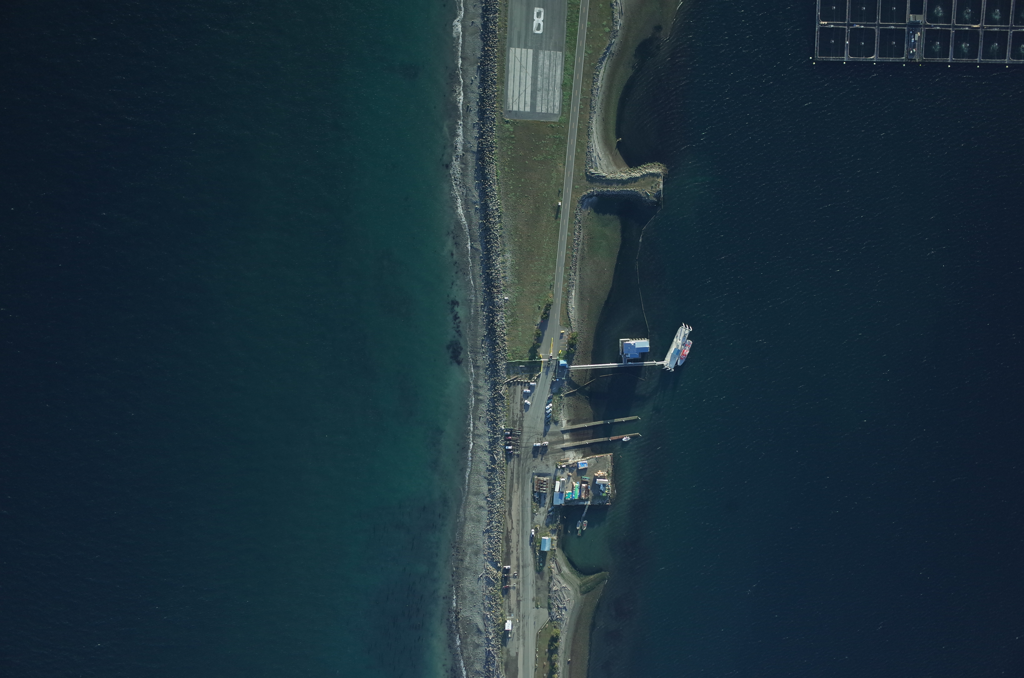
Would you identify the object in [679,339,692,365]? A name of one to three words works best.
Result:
boat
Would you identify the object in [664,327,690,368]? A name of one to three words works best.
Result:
ship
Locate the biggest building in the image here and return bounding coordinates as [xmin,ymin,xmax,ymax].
[620,338,650,364]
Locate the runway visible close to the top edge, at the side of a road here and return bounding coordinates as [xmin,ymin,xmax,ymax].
[504,0,567,122]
